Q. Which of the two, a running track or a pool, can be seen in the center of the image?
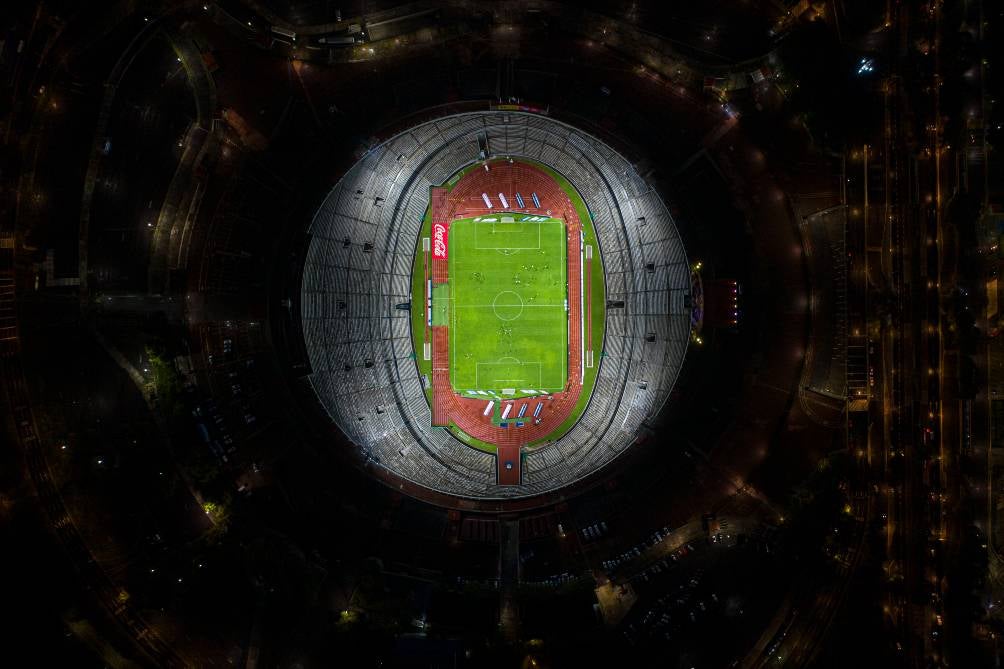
running track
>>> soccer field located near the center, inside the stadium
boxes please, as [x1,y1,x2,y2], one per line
[449,213,567,398]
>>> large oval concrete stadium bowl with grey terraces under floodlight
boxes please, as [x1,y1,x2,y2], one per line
[267,75,727,536]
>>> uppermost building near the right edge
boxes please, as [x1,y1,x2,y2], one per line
[954,202,1004,242]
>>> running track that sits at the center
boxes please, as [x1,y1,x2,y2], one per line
[432,161,581,444]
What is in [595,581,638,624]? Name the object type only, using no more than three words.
building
